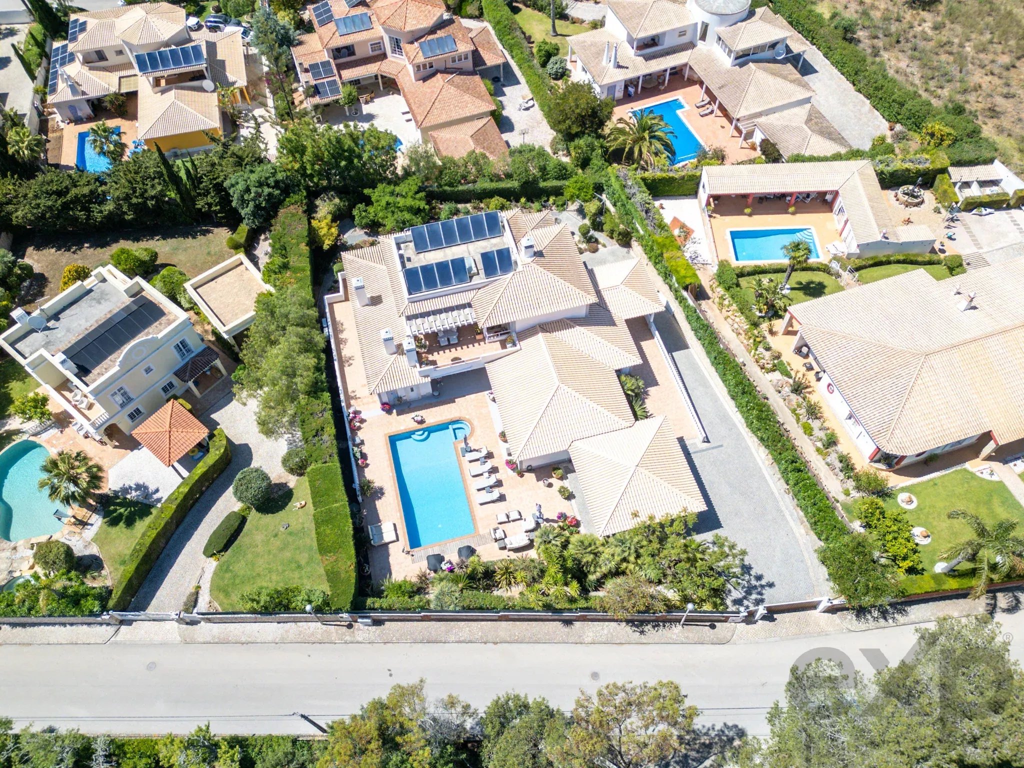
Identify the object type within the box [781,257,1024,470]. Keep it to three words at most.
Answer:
house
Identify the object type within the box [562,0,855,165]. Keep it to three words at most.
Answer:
house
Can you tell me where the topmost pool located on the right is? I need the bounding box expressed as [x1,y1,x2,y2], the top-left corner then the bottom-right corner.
[653,95,714,166]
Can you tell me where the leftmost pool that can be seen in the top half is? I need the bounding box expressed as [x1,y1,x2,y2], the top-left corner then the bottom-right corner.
[67,124,123,169]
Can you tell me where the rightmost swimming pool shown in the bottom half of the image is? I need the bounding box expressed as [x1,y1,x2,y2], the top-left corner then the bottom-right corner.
[384,414,481,555]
